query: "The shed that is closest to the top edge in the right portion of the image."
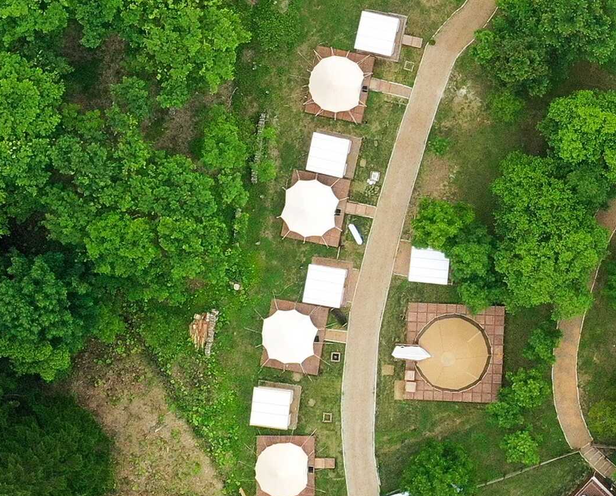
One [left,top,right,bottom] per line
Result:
[354,11,407,61]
